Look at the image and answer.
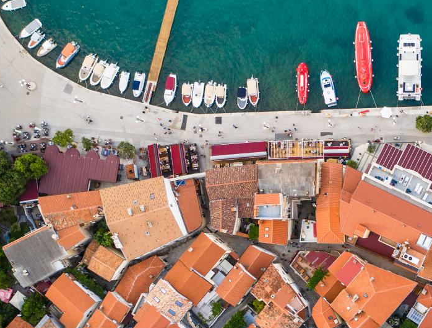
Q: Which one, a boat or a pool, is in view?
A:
boat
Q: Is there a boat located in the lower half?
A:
No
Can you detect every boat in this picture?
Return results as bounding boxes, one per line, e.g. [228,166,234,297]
[92,59,110,85]
[1,0,28,13]
[163,71,178,106]
[118,70,130,94]
[295,64,311,106]
[27,29,46,49]
[247,76,261,107]
[193,79,204,108]
[322,70,339,108]
[395,33,425,106]
[56,41,82,69]
[352,21,375,94]
[132,70,146,97]
[81,52,100,81]
[19,17,44,38]
[37,37,60,57]
[181,80,193,107]
[238,85,249,109]
[204,79,217,108]
[102,62,122,88]
[215,83,226,108]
